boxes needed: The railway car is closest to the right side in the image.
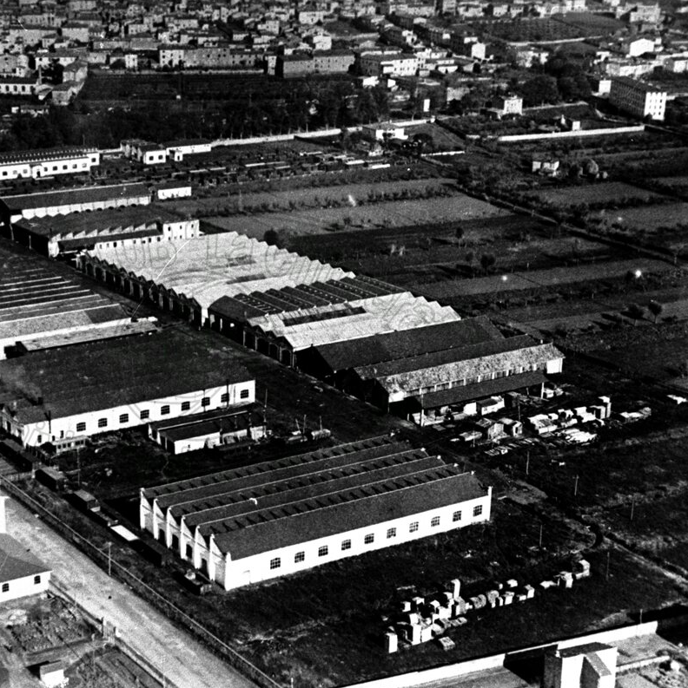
[166,565,205,591]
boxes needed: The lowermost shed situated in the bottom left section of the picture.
[37,663,66,687]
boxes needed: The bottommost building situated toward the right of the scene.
[544,628,626,688]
